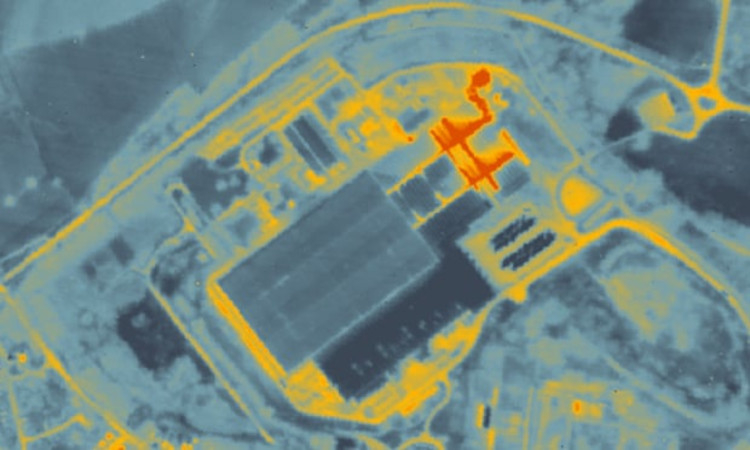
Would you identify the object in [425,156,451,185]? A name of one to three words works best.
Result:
building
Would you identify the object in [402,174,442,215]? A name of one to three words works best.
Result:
building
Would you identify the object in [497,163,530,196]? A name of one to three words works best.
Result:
shed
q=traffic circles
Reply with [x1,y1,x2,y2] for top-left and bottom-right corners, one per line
[690,79,730,117]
